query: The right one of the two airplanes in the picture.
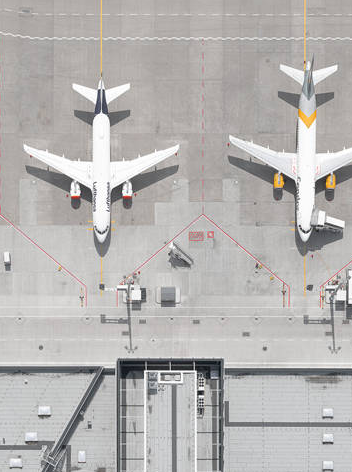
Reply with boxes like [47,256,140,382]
[229,55,352,242]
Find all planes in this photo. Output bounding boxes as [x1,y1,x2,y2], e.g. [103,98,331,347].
[229,55,352,242]
[23,71,180,242]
